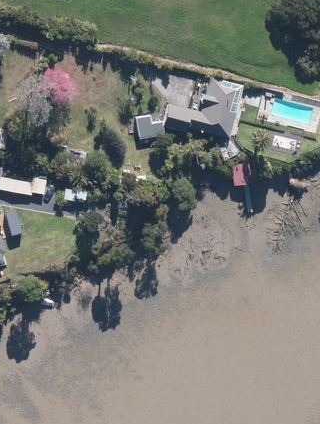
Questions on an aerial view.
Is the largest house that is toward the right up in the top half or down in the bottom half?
top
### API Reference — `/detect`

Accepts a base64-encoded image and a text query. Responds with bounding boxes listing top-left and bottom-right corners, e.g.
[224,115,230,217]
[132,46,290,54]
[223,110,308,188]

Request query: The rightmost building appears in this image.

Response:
[233,164,252,186]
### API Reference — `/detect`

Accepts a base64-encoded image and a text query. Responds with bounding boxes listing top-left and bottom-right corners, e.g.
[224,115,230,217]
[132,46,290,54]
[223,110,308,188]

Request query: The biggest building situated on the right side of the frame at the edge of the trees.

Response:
[164,78,244,138]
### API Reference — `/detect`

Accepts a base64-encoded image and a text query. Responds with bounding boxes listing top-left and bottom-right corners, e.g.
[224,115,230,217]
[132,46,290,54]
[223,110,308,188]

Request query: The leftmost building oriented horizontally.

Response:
[0,177,32,195]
